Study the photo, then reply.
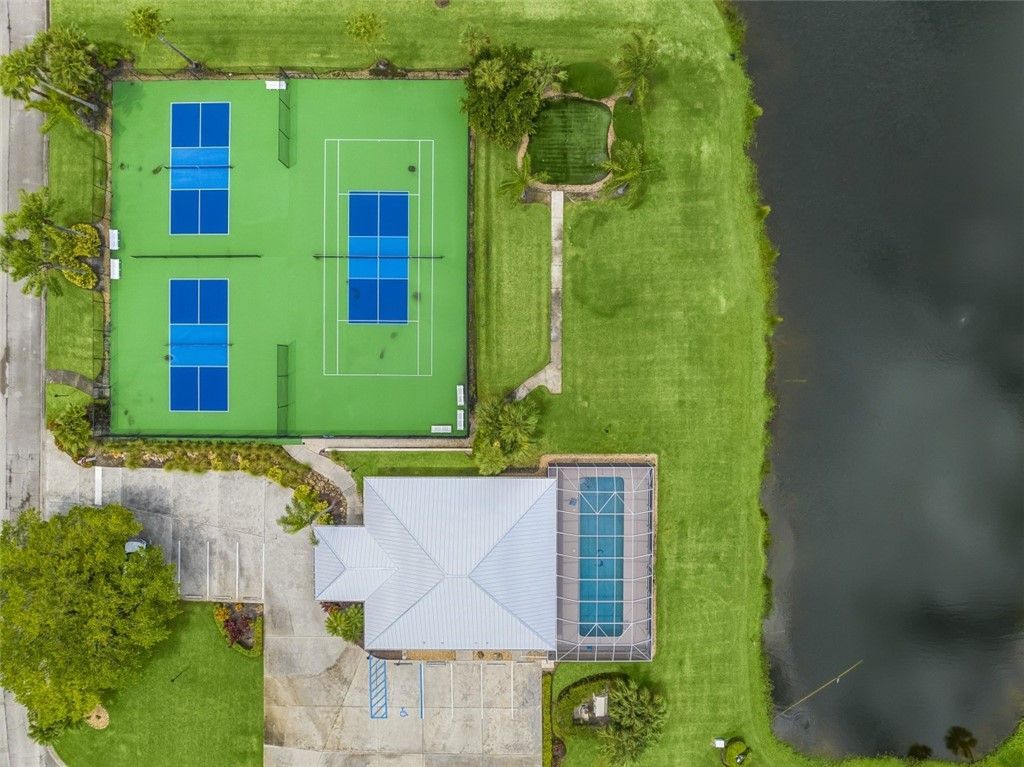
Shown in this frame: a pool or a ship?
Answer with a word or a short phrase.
pool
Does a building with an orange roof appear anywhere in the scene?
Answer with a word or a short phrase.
No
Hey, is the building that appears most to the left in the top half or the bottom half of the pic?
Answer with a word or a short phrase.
bottom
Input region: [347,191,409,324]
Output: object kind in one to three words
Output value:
sports court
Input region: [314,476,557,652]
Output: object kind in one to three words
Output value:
building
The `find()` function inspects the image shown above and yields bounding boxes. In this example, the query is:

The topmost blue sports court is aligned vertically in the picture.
[170,102,231,235]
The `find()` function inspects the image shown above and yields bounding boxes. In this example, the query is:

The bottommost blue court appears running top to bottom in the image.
[168,279,229,412]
